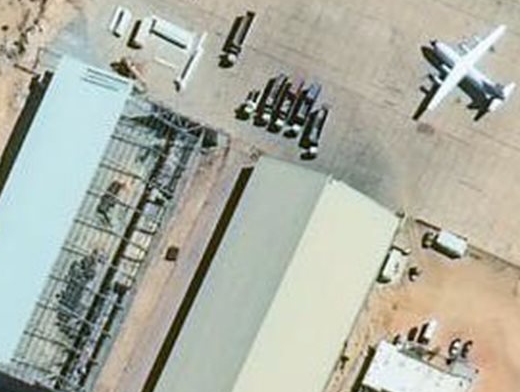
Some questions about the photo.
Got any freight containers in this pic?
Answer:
Yes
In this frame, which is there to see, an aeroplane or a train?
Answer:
aeroplane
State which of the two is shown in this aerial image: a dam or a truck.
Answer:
truck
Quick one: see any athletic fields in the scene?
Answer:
No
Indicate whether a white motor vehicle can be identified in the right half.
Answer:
Yes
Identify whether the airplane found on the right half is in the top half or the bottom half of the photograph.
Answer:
top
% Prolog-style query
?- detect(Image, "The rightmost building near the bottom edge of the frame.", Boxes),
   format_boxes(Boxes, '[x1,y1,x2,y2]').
[364,333,483,392]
